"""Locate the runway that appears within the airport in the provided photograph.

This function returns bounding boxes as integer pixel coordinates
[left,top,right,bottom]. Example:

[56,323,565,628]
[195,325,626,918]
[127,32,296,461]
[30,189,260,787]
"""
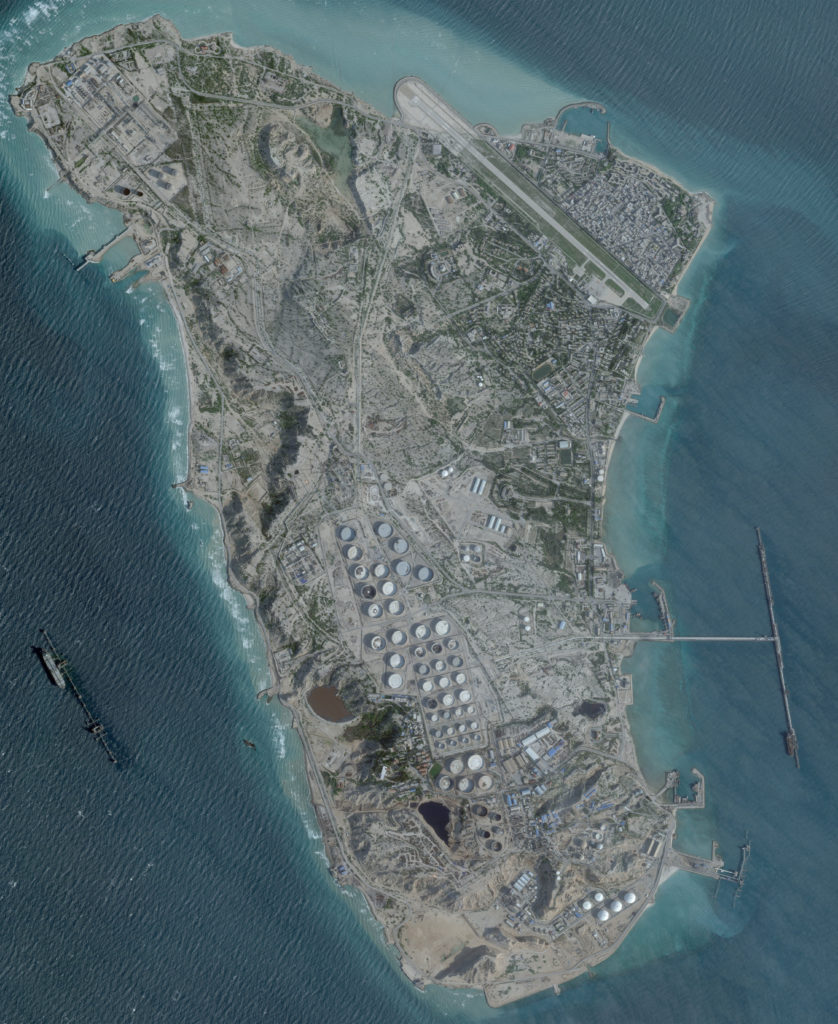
[418,103,649,308]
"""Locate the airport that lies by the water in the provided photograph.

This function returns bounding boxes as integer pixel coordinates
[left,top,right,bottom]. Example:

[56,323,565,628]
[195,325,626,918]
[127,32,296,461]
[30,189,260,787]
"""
[398,79,663,318]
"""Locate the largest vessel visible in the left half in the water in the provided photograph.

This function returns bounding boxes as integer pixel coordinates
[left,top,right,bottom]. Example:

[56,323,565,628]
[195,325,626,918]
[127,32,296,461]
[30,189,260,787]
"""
[40,649,66,689]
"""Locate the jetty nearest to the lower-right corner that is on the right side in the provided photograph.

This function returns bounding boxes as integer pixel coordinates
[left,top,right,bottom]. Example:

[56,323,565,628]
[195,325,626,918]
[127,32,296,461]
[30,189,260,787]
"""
[668,840,750,908]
